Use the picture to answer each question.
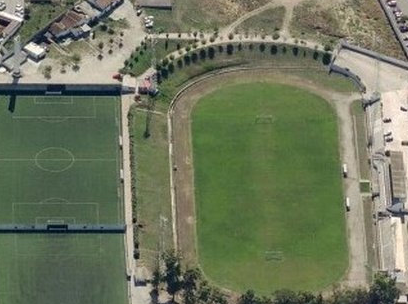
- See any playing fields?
Yes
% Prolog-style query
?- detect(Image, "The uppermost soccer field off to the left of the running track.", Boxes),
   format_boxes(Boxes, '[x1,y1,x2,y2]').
[0,89,126,231]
